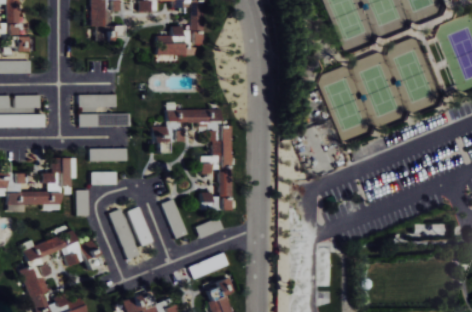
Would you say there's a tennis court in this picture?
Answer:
Yes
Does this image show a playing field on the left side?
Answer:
No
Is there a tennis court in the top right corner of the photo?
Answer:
Yes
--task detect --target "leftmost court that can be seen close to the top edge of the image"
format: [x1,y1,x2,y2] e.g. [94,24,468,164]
[322,0,374,52]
